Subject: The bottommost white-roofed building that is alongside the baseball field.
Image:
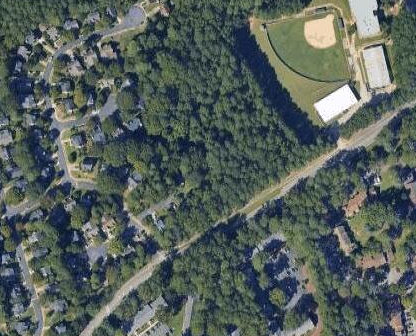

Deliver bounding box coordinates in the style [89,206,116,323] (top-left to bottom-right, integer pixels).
[314,84,358,122]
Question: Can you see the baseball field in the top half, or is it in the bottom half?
top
